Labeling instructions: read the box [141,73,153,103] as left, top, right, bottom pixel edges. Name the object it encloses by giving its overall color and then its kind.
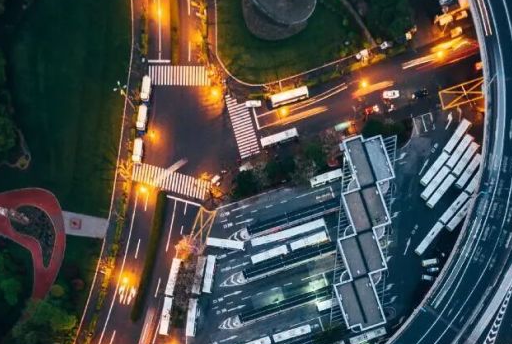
white vehicle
